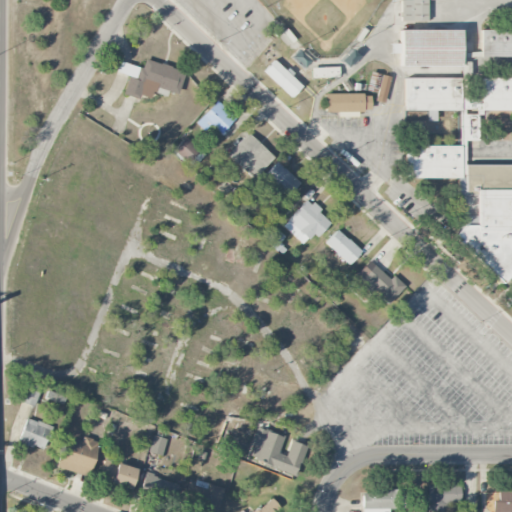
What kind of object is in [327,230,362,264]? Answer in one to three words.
house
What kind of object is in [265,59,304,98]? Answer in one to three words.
building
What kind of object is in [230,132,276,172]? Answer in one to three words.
house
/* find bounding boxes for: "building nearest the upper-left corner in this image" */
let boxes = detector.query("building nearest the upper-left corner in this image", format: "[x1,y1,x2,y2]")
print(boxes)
[118,57,186,98]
